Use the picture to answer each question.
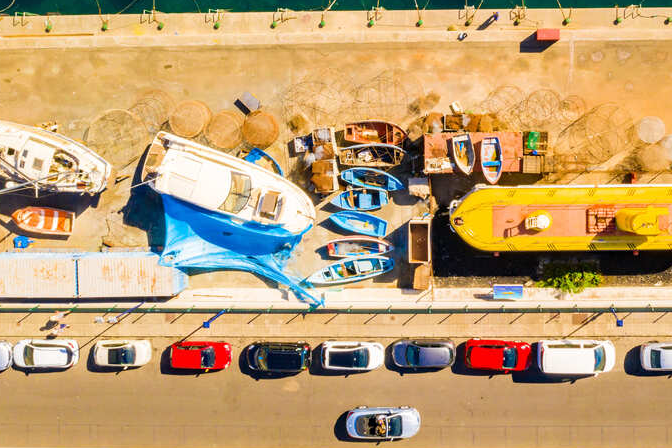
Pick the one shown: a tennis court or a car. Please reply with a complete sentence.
Visible in the photo is a car.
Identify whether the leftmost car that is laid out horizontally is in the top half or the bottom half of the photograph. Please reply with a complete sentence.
The leftmost car that is laid out horizontally is in the bottom half of the image.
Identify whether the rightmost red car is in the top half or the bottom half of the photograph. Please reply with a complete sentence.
You can find the rightmost red car in the bottom half.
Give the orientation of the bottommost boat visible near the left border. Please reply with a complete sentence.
From this overhead view, the bottommost boat visible near the left border appears to run from side to side.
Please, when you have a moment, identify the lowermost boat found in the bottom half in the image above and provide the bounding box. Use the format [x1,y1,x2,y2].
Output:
[305,255,396,286]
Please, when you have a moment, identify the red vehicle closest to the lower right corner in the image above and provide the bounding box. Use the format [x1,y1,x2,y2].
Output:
[465,338,530,372]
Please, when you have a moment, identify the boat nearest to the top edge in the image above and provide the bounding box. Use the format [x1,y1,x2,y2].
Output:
[344,119,408,146]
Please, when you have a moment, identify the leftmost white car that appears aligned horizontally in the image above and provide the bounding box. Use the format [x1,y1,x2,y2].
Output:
[13,339,81,373]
